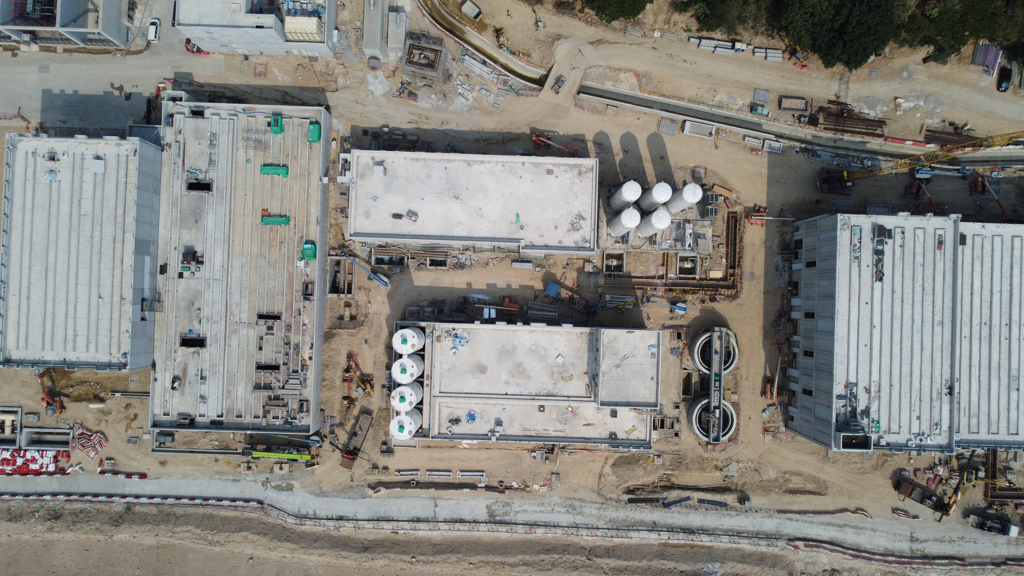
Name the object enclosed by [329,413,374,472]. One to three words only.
truck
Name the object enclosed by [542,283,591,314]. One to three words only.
truck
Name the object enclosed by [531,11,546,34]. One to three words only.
work vehicle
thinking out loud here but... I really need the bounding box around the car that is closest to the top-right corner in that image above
[995,65,1013,93]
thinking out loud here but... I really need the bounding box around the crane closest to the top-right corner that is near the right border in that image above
[814,136,1024,197]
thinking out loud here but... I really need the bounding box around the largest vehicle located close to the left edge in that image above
[29,371,70,420]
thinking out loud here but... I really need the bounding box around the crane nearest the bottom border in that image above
[238,445,318,472]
